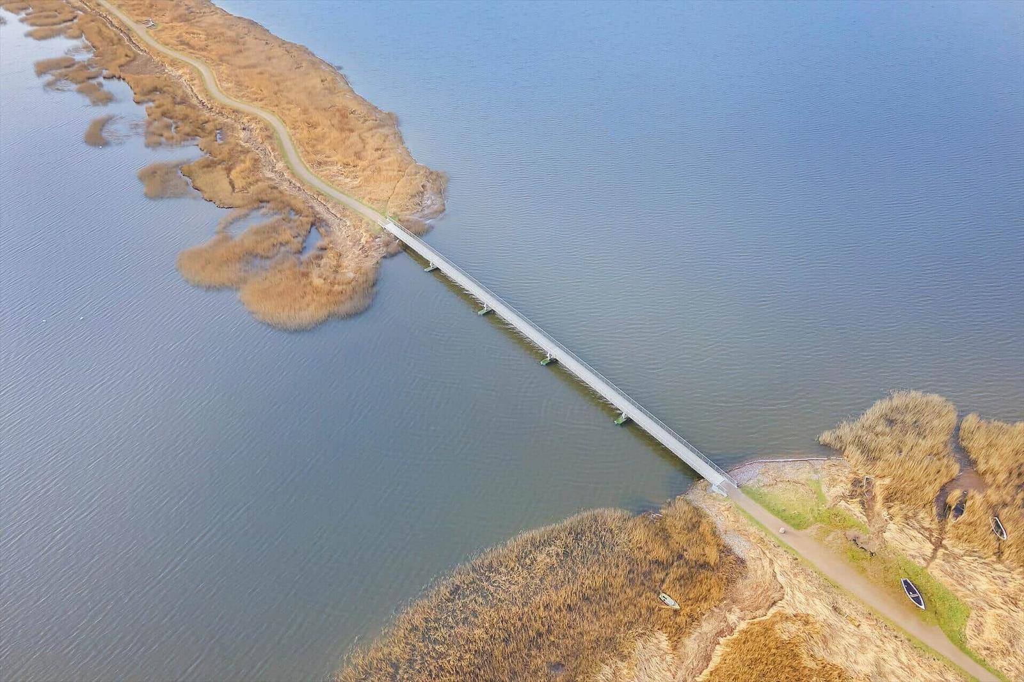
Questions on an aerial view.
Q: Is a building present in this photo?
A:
No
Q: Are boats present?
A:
Yes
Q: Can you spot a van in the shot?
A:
No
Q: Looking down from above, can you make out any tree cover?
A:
No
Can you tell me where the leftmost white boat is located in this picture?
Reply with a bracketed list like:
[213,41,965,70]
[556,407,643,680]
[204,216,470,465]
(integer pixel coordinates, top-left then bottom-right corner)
[658,592,681,611]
